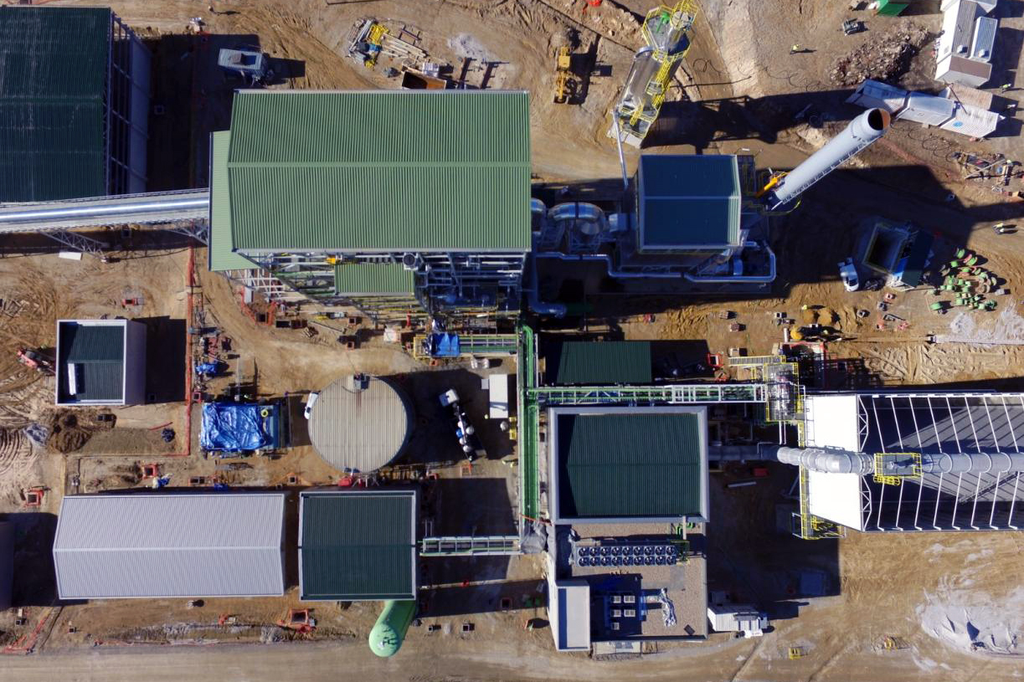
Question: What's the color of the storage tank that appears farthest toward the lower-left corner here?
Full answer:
The color of the storage tank that appears farthest toward the lower-left corner is green.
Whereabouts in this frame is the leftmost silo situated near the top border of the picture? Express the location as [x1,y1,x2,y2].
[605,0,707,137]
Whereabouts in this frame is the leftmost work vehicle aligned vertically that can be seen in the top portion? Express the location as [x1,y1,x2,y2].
[556,50,574,103]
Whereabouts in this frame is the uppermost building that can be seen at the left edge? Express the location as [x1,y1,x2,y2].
[0,8,155,205]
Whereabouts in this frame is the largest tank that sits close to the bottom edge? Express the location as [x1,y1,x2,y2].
[370,596,419,654]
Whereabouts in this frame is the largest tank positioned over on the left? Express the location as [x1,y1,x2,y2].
[307,374,417,476]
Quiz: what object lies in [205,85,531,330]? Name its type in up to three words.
building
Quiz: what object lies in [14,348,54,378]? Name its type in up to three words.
work vehicle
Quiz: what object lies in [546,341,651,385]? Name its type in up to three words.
shed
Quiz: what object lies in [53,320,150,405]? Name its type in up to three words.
building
